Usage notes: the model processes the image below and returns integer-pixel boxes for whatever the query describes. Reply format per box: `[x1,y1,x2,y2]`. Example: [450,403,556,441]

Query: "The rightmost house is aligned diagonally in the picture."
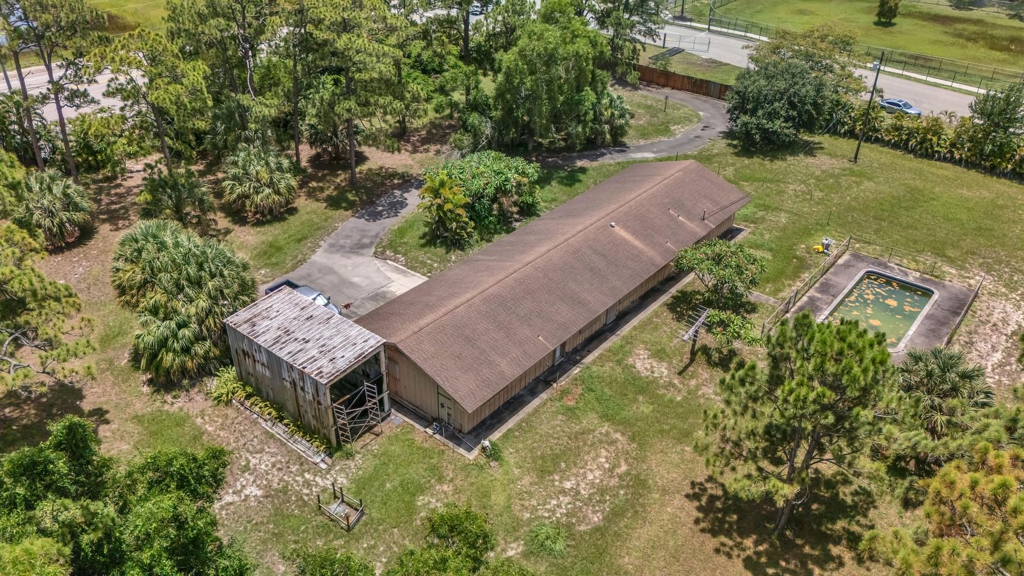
[354,159,751,435]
